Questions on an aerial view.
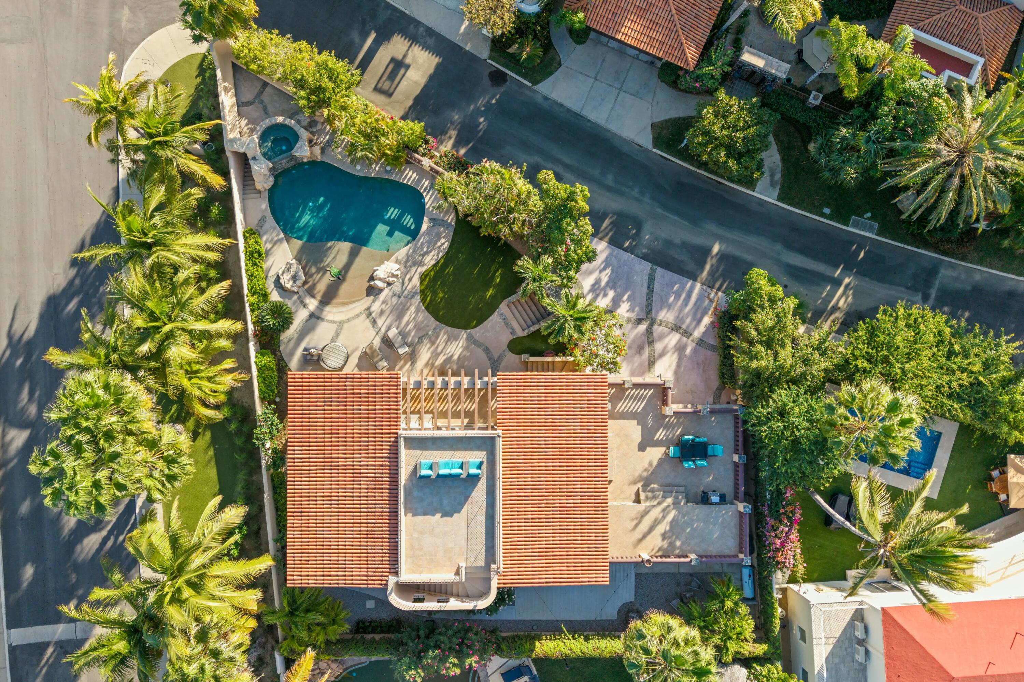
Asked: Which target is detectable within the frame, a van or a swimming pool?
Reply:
swimming pool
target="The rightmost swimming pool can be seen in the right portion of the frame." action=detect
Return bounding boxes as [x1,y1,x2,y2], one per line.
[800,383,959,499]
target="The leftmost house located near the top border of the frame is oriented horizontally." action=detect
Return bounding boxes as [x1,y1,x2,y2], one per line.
[564,0,725,71]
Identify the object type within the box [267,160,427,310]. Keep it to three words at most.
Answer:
swimming pool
